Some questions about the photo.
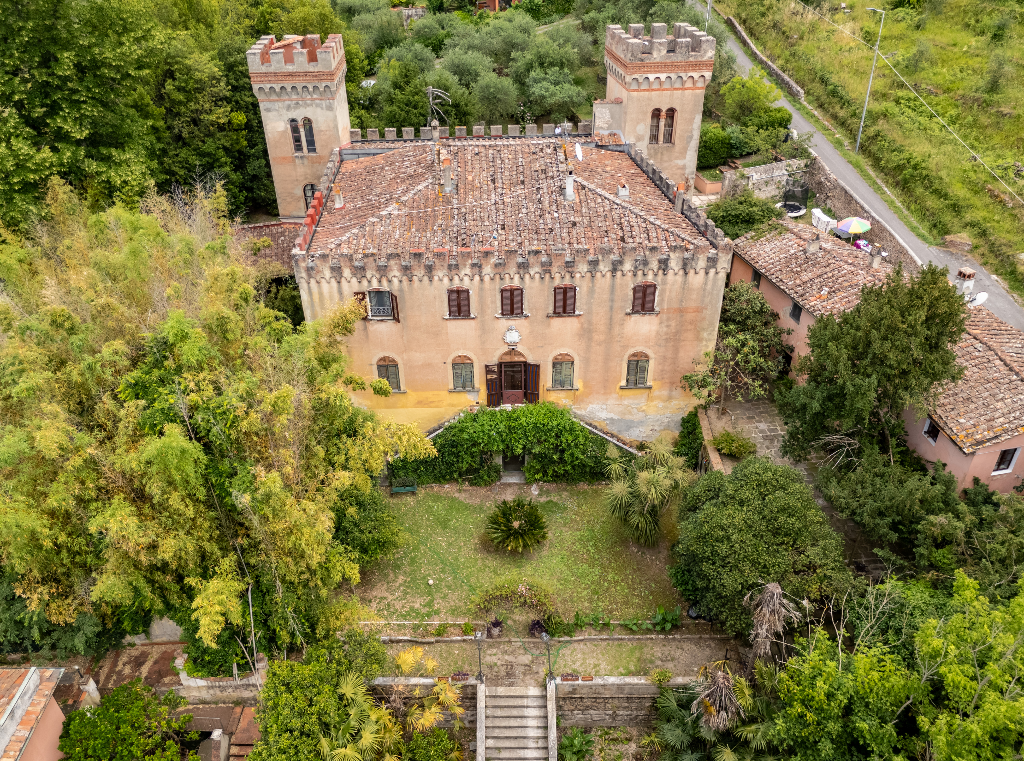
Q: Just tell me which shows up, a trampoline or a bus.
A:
trampoline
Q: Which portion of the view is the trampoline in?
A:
top right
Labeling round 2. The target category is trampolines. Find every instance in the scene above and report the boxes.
[774,182,812,222]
